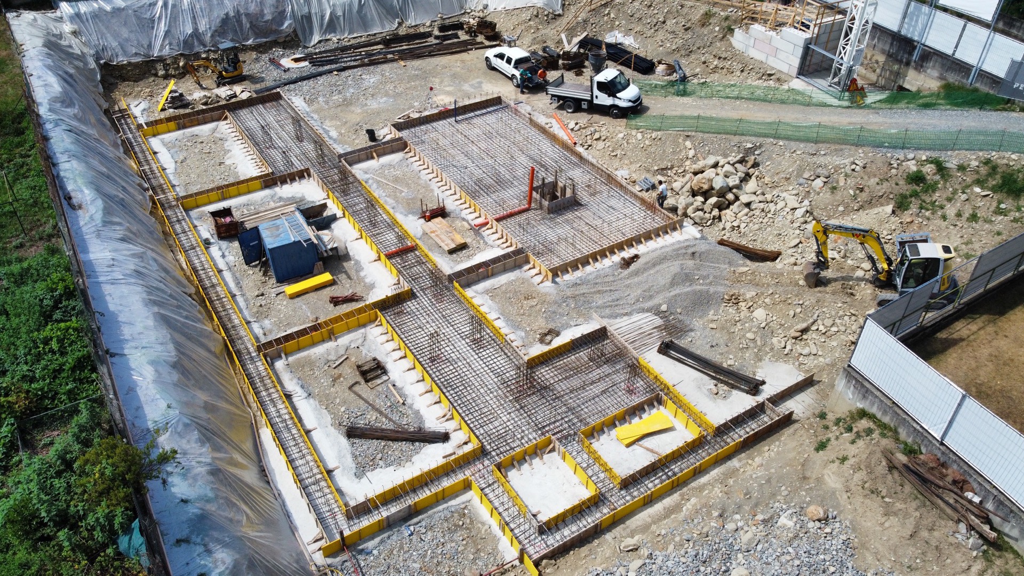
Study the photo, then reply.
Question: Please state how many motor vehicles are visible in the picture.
4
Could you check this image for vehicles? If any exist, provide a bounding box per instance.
[491,48,549,87]
[801,218,962,312]
[184,43,243,85]
[540,71,648,119]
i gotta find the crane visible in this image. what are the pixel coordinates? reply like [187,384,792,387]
[827,0,884,88]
